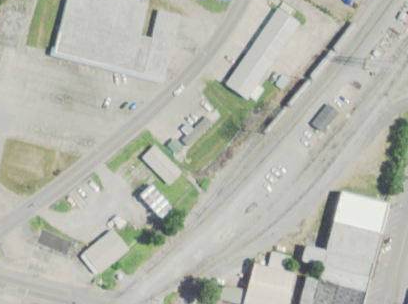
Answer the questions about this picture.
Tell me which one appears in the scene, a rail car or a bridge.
rail car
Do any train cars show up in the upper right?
Yes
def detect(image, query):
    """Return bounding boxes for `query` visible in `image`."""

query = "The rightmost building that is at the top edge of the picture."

[224,2,300,102]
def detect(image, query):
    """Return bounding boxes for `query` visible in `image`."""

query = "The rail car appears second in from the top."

[308,52,334,80]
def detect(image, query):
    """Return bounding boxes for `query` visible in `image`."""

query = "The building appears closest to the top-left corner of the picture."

[52,0,179,82]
